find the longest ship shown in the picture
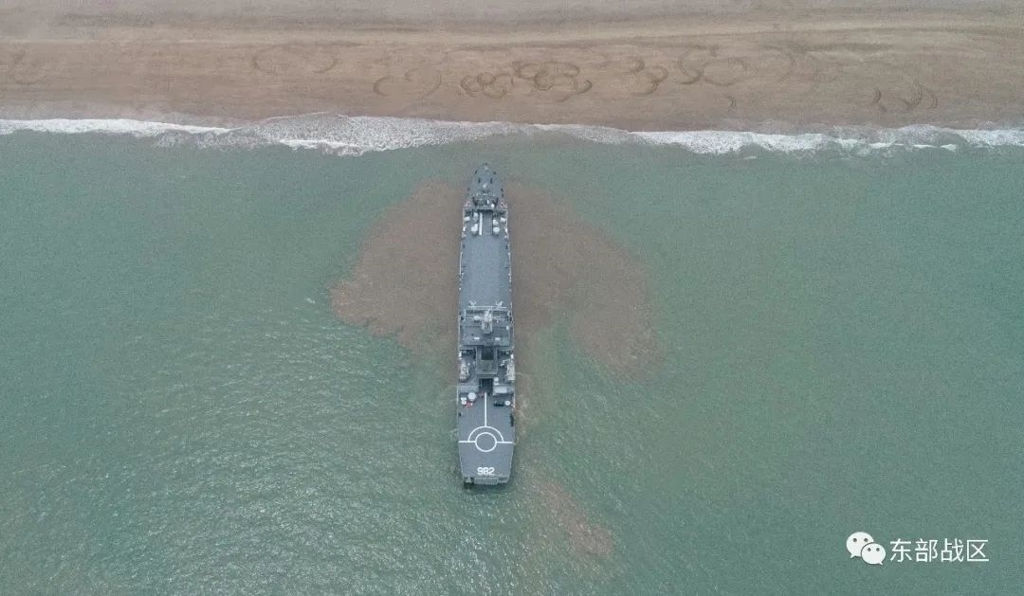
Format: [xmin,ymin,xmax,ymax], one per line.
[456,161,516,485]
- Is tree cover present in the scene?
No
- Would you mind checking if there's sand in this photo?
Yes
